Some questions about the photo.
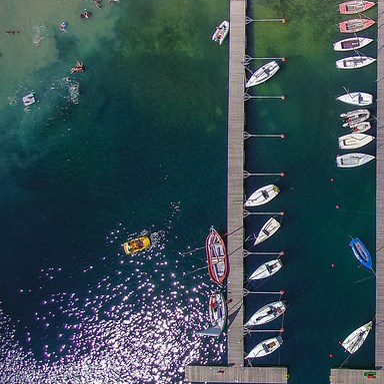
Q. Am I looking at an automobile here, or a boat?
boat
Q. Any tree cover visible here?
No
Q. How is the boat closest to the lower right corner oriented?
at an angle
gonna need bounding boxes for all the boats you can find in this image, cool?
[351,237,376,275]
[337,90,375,106]
[249,218,280,247]
[239,183,282,206]
[337,0,376,14]
[340,316,376,365]
[336,152,375,166]
[241,337,283,371]
[185,228,229,284]
[344,121,372,134]
[196,292,228,339]
[343,110,371,125]
[239,59,281,90]
[335,50,377,70]
[337,9,379,32]
[337,133,378,149]
[332,30,373,52]
[242,301,289,335]
[214,19,228,45]
[245,258,285,283]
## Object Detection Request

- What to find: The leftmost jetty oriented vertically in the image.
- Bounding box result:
[227,0,248,367]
